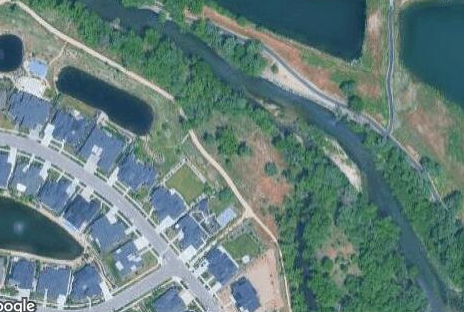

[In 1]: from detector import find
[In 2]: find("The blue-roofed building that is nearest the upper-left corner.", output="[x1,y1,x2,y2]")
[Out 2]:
[11,90,55,130]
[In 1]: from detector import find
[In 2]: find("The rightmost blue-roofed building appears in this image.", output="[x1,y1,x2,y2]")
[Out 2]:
[228,278,264,312]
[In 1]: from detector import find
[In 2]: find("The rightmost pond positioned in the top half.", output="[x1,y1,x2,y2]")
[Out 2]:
[56,66,153,134]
